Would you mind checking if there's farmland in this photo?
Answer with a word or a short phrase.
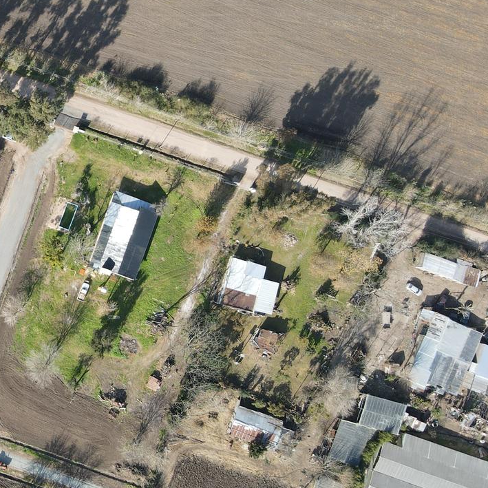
Yes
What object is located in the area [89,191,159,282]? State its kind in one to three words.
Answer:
house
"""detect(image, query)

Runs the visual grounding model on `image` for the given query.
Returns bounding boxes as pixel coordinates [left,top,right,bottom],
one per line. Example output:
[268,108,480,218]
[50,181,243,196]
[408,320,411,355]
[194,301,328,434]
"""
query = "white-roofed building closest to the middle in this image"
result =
[217,256,278,315]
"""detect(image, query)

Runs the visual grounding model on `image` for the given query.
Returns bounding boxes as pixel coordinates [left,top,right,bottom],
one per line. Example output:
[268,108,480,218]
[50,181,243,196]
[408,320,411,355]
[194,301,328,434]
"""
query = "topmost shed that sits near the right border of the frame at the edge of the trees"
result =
[417,254,480,287]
